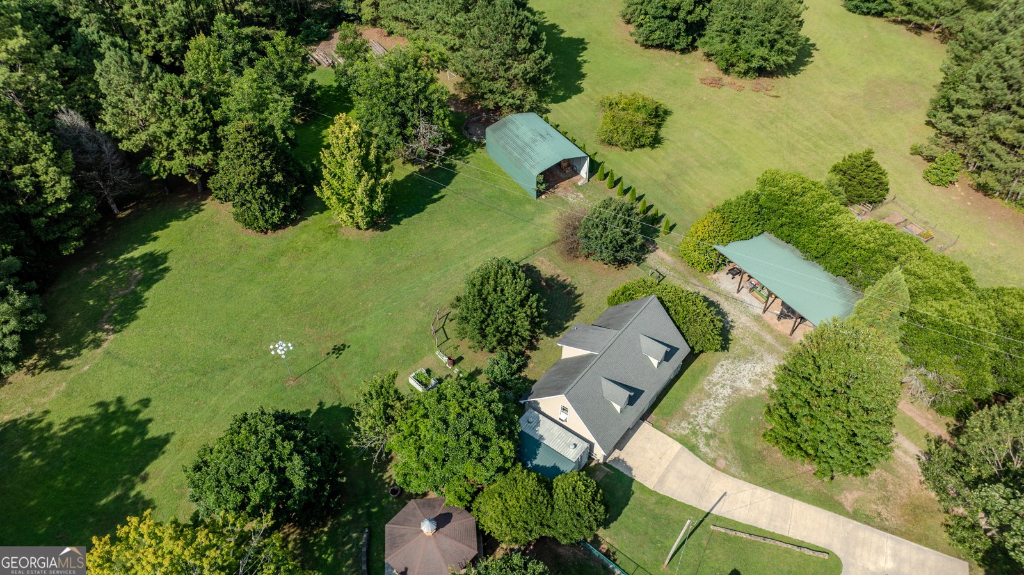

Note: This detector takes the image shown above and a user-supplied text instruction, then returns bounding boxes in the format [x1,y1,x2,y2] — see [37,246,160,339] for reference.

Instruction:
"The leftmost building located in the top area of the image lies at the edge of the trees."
[488,116,589,201]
